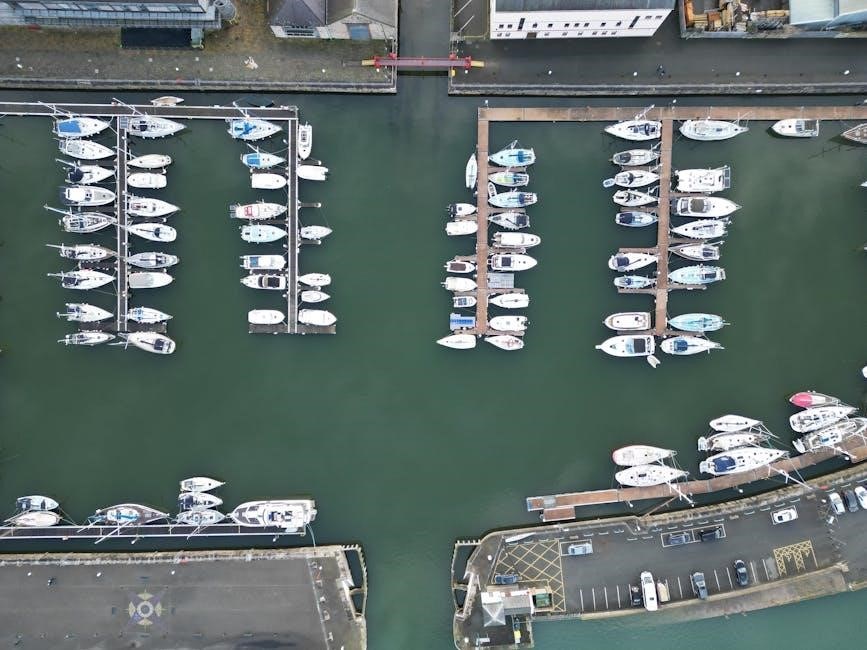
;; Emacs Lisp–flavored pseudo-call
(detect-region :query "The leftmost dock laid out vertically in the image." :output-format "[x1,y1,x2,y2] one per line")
[76,118,168,335]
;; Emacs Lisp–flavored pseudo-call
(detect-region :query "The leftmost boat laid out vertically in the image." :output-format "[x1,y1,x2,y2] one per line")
[298,121,312,160]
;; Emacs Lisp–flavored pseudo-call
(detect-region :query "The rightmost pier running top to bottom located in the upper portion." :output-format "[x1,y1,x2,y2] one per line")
[616,121,706,339]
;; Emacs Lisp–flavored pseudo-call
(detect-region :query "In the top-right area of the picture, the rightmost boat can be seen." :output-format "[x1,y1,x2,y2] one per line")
[841,124,867,145]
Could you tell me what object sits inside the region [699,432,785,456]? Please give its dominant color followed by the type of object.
white boat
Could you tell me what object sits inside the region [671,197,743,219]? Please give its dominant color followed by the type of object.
white boat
